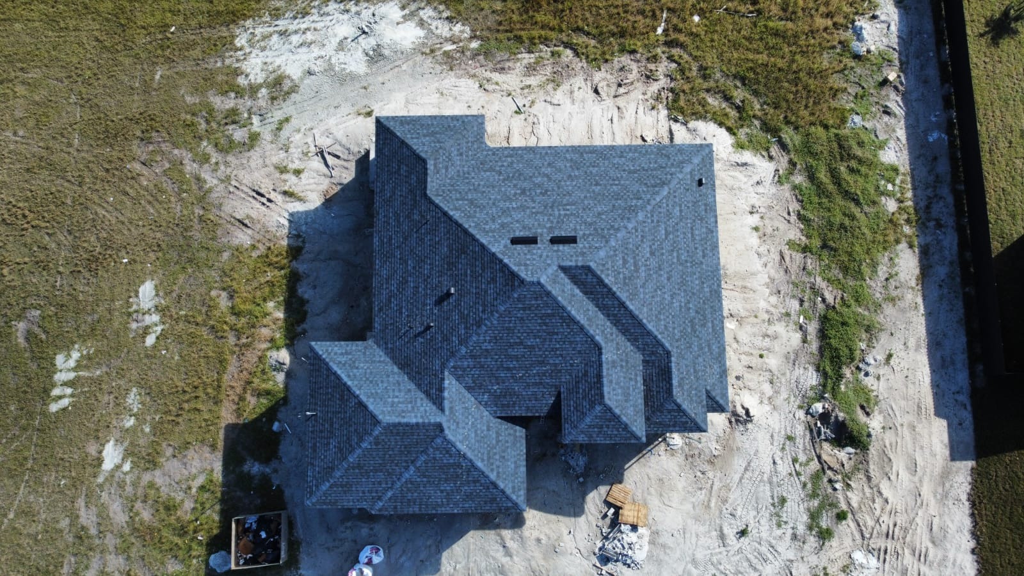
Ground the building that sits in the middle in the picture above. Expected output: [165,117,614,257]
[303,112,730,515]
